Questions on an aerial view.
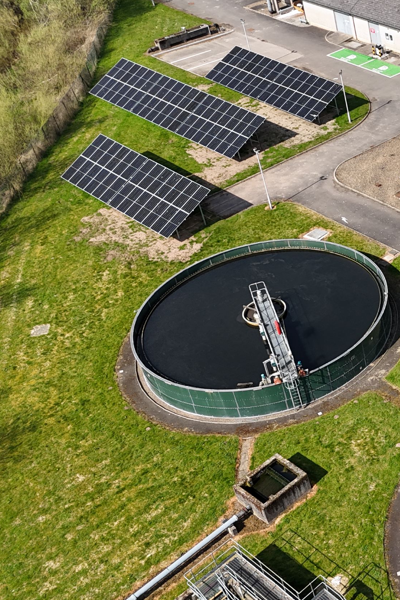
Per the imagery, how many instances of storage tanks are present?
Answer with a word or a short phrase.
1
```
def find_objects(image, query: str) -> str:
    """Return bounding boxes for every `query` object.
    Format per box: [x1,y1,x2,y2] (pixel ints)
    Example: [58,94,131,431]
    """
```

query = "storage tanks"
[132,239,390,417]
